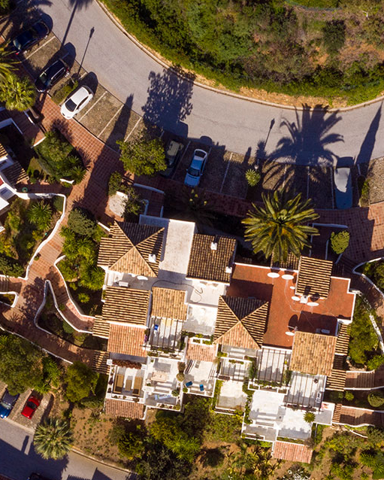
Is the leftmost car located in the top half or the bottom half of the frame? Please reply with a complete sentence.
The leftmost car sits in the bottom half of the picture.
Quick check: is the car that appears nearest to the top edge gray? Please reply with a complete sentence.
No, the car that appears nearest to the top edge is actually black.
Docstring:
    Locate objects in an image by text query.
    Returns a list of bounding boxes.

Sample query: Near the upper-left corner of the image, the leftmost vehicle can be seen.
[12,20,53,54]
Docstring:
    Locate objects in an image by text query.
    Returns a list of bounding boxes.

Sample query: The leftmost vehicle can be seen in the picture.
[0,389,21,422]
